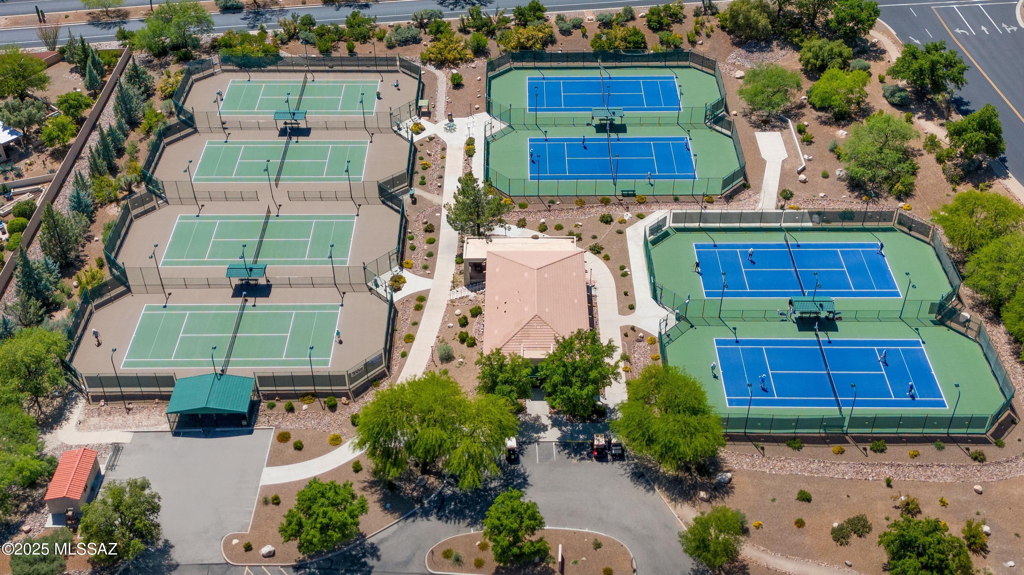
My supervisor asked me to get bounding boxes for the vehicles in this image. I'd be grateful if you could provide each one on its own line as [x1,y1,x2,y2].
[506,434,518,459]
[610,431,624,456]
[593,433,606,457]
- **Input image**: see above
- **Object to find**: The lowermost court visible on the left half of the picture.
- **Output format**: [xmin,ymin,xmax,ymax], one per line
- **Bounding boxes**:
[68,284,387,391]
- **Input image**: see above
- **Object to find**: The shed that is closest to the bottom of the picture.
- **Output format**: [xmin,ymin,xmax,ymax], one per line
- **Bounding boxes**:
[45,447,103,513]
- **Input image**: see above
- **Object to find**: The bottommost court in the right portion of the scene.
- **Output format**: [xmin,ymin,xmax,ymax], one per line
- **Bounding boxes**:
[661,317,1007,434]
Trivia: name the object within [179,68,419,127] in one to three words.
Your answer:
tennis court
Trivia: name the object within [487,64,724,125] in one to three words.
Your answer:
tennis court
